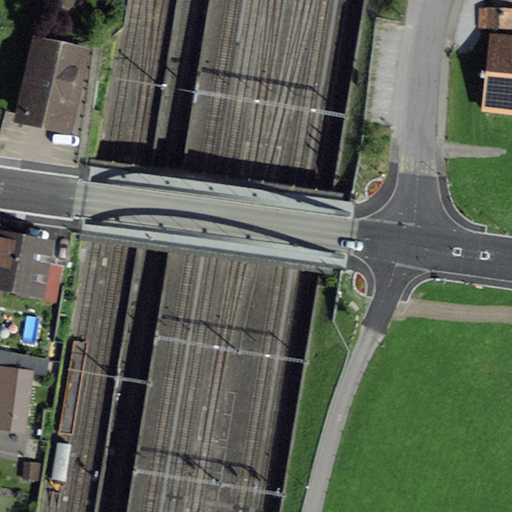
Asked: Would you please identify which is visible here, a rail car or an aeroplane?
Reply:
rail car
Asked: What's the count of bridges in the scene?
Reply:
one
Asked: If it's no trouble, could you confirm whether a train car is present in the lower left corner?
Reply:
Yes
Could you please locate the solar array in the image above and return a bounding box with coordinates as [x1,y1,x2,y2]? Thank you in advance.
[486,76,512,112]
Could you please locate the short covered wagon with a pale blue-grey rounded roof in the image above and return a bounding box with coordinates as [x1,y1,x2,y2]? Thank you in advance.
[52,440,70,484]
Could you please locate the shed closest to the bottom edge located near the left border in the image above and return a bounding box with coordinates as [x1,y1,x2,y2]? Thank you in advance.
[22,462,42,482]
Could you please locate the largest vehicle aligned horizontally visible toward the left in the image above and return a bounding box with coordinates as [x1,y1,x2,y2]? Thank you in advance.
[50,134,80,148]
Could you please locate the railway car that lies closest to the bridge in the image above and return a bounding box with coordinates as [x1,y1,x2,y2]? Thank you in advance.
[59,339,86,437]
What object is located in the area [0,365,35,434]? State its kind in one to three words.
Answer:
house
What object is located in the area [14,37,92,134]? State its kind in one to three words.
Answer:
house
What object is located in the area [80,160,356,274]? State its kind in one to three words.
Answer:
bridge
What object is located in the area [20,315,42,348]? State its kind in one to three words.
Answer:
swimming pool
